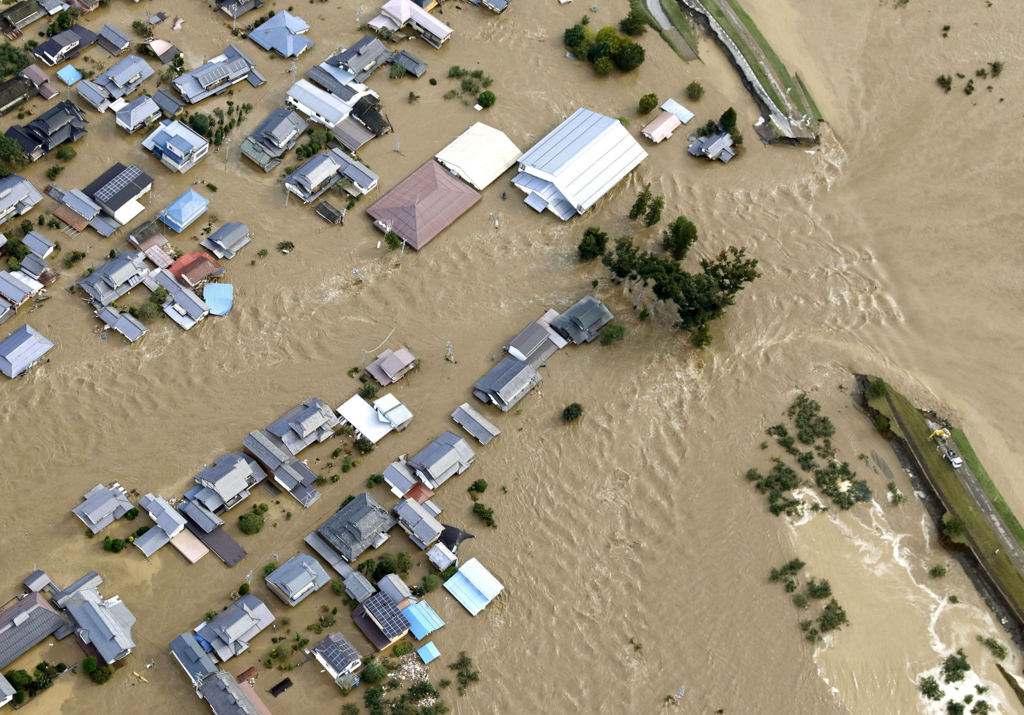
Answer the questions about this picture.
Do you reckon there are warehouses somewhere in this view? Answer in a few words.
Yes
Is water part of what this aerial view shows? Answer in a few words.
Yes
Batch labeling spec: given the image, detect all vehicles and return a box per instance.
[925,427,959,447]
[946,447,964,467]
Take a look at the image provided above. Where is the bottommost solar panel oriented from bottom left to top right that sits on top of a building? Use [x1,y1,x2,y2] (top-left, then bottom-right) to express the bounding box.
[99,171,140,204]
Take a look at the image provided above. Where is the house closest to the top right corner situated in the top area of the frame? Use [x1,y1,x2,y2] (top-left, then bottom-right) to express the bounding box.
[688,132,738,164]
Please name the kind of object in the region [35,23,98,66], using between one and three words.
house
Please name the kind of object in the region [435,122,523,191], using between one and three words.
building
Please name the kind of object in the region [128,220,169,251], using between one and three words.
shed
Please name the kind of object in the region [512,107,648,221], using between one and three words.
warehouse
